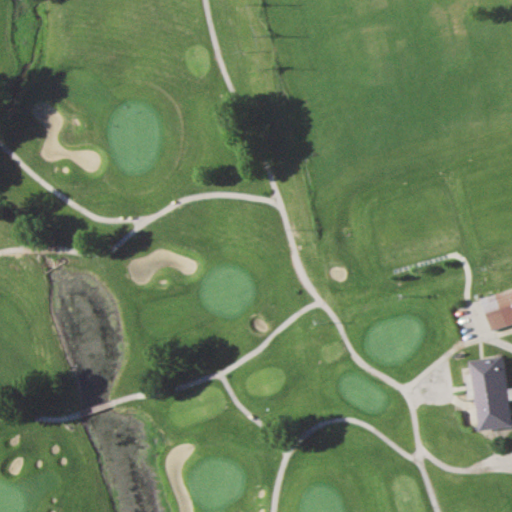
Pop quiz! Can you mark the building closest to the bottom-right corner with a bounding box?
[470,356,512,432]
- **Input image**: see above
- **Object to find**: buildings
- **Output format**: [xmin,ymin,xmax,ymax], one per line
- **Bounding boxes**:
[470,356,512,432]
[486,290,512,331]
